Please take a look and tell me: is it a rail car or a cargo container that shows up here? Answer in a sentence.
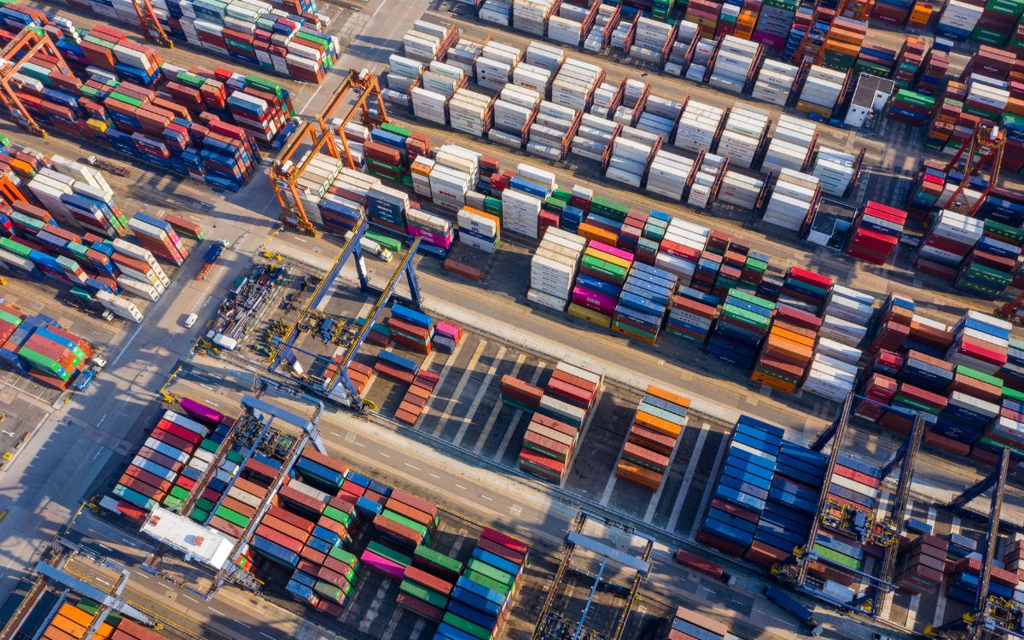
I can see a cargo container in this picture.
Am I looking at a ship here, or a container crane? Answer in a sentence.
Visible in the photo is a container crane.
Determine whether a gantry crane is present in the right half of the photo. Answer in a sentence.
Yes, a gantry crane appears in the right half of the photo.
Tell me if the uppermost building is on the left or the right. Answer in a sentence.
The uppermost building sits on the right side.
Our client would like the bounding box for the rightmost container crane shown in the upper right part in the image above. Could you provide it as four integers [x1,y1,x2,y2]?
[952,106,1018,217]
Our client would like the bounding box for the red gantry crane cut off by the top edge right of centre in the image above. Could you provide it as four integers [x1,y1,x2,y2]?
[785,0,839,70]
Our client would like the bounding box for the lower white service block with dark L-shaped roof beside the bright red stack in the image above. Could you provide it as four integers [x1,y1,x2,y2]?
[807,198,856,246]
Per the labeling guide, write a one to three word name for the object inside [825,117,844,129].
vehicle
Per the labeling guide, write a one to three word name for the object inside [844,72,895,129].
building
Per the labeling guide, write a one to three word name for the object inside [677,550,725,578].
shipping container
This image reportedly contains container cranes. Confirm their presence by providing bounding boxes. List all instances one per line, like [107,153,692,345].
[308,65,386,169]
[264,214,425,414]
[920,443,1024,640]
[0,533,152,640]
[261,119,344,235]
[130,374,335,604]
[952,106,1018,217]
[0,22,73,134]
[768,388,925,623]
[785,0,839,70]
[523,508,661,640]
